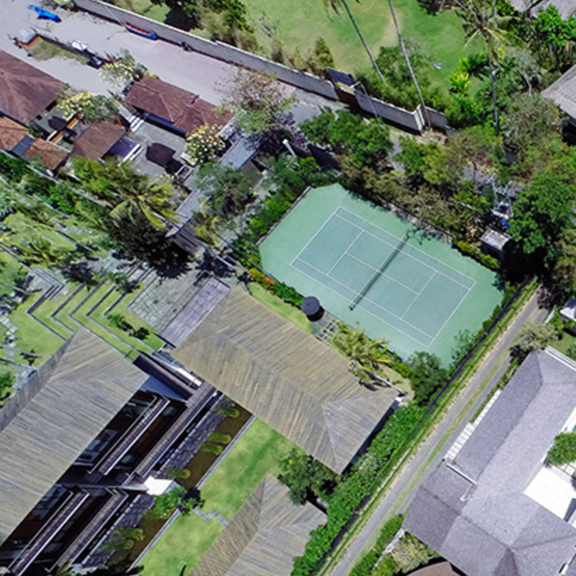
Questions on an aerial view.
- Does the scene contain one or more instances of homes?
Yes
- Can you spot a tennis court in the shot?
Yes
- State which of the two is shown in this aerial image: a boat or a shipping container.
boat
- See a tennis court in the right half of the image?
Yes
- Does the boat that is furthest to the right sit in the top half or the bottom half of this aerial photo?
top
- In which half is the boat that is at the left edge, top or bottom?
top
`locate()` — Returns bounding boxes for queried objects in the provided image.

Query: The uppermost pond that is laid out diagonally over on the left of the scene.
[184,413,257,491]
